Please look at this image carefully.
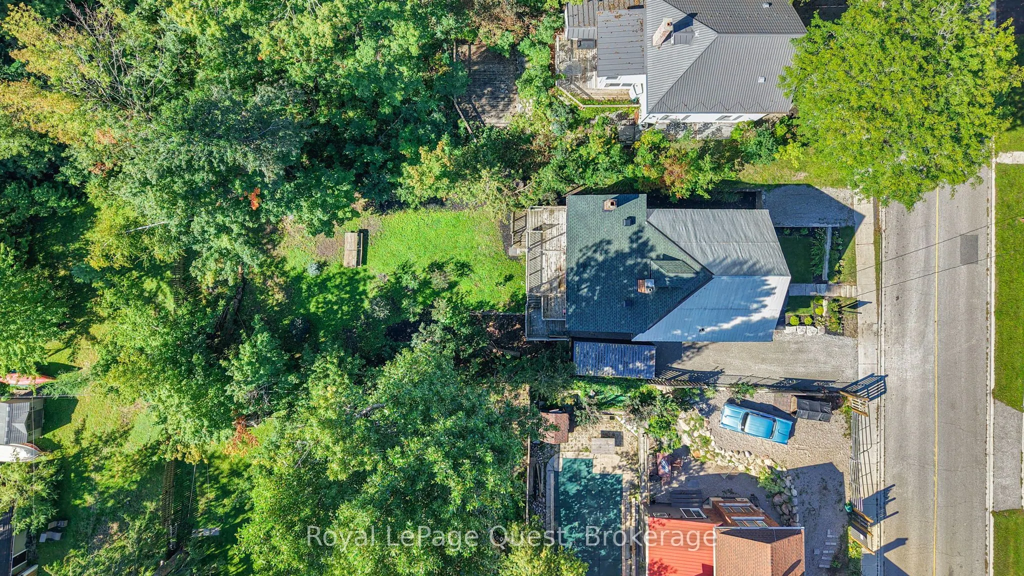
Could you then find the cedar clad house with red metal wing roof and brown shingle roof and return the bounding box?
[644,491,806,576]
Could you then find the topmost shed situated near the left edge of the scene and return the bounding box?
[0,399,44,444]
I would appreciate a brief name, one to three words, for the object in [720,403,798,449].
car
